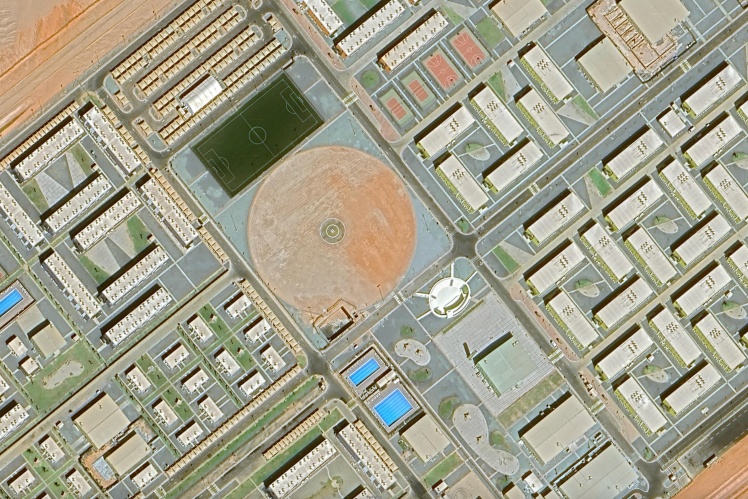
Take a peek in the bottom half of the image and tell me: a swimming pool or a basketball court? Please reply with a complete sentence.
Visible in the bottom half of the image is a swimming pool.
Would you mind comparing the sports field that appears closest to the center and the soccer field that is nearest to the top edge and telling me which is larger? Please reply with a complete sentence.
Of the two, the sports field is bigger, while the soccer field is smaller.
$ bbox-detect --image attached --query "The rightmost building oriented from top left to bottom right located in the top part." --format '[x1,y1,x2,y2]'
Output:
[700,165,748,224]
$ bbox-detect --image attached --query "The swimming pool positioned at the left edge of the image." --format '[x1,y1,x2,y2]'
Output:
[0,280,29,321]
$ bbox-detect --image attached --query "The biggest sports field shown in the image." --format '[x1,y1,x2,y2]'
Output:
[249,147,416,313]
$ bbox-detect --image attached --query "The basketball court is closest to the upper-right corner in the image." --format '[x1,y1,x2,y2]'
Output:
[445,24,492,75]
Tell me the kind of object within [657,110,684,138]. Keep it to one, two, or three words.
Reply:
house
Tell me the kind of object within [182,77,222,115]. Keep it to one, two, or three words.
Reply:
building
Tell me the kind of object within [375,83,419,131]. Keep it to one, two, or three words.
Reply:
sports court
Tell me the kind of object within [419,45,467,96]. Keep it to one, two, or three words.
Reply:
basketball court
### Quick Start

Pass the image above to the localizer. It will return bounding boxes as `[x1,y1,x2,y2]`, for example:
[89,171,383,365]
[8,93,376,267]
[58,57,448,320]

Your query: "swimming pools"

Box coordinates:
[367,381,417,432]
[343,351,386,392]
[0,280,29,321]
